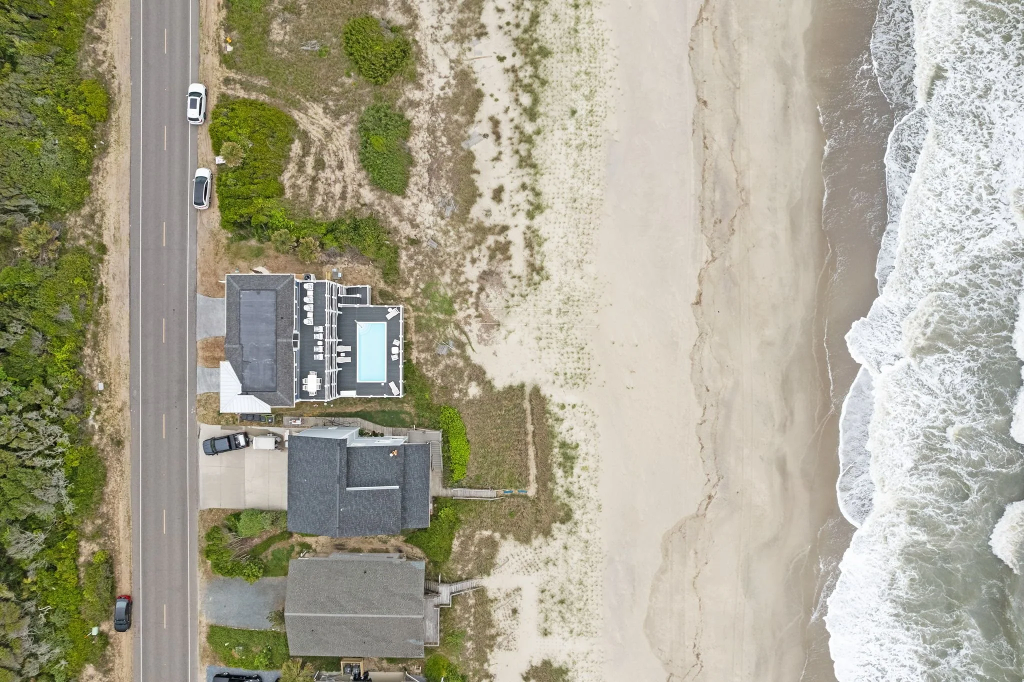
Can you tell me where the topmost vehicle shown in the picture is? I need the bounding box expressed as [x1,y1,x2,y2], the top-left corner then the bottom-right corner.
[187,86,208,125]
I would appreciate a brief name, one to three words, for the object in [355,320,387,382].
swimming pool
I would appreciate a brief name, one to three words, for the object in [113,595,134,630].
car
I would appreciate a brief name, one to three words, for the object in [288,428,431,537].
house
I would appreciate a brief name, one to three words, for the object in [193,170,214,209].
car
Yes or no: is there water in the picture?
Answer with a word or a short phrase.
Yes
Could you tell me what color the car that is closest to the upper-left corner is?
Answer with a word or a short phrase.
white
